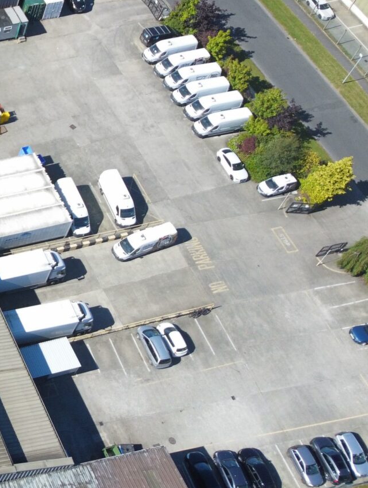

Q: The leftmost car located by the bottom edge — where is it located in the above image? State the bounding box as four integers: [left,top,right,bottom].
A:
[190,451,231,488]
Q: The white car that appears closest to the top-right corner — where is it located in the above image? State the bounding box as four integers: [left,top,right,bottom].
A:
[306,0,332,19]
